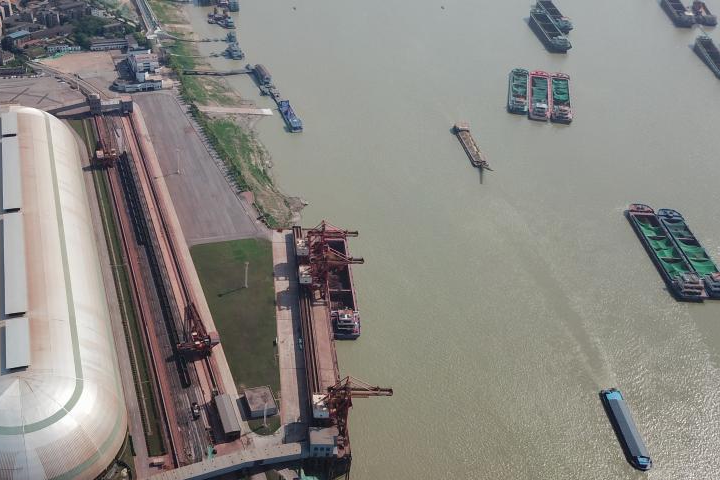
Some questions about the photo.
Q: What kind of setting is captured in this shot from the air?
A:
port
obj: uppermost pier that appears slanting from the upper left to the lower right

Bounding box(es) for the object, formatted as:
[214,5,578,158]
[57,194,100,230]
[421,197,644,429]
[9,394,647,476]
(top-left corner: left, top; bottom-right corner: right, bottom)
[250,62,277,86]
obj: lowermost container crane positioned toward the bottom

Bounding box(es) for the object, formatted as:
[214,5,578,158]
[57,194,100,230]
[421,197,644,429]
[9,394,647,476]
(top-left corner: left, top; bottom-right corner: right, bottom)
[313,373,393,430]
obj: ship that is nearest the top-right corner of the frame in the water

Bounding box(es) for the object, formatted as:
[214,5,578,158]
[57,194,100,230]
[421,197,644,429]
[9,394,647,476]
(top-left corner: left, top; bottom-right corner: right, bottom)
[690,0,716,27]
